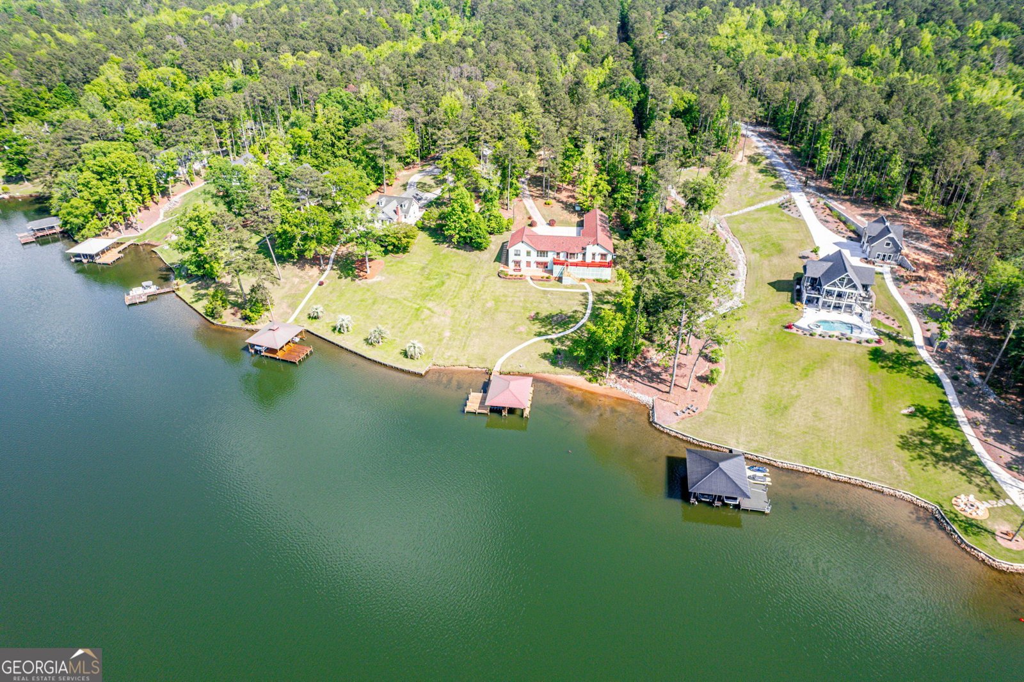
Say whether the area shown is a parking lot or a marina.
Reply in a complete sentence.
What you see here is a marina.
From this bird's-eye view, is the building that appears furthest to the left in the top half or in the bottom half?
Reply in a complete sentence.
You can find the building that appears furthest to the left in the top half.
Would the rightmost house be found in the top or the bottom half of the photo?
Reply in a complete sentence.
You can find the rightmost house in the top half.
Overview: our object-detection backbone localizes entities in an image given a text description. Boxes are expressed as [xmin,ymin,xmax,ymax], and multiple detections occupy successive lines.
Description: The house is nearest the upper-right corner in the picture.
[860,215,910,261]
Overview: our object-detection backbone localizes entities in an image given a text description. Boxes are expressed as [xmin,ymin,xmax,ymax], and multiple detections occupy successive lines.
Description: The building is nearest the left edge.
[13,217,72,248]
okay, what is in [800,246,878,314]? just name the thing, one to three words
house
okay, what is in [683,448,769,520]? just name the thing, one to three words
building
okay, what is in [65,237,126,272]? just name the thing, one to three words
building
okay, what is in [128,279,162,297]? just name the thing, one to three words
boat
